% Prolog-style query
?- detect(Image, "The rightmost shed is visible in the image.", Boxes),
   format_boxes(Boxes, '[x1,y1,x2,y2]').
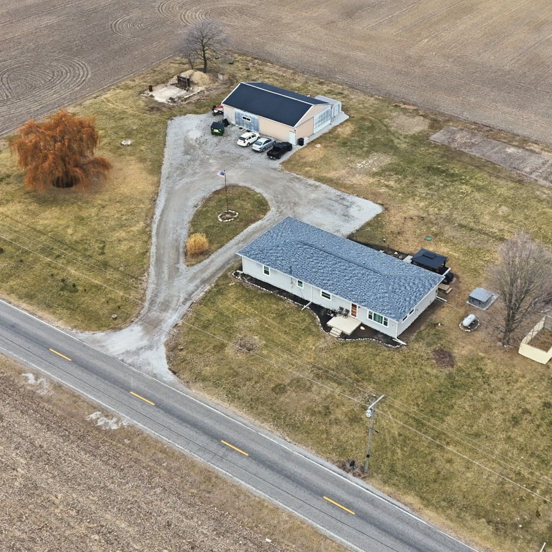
[466,288,497,311]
